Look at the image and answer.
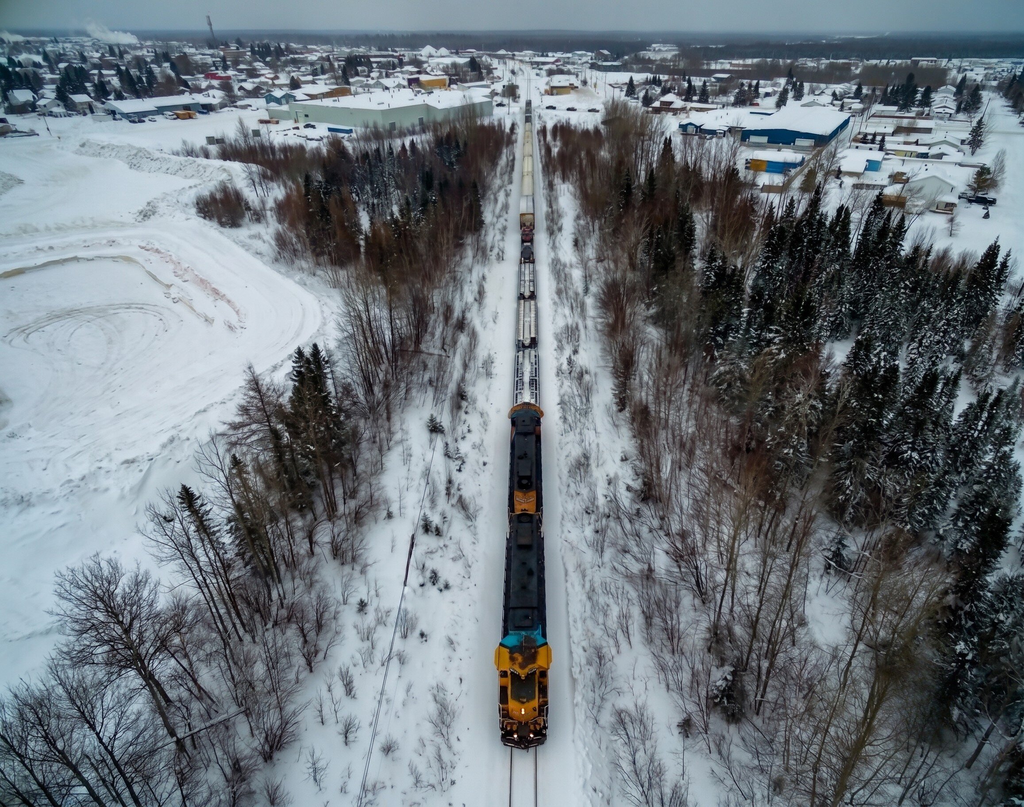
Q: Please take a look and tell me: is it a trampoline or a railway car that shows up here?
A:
railway car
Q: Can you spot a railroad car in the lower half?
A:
Yes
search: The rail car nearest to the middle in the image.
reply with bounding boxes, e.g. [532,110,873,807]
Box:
[512,345,540,413]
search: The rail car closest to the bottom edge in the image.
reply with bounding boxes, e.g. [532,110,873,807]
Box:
[497,519,553,761]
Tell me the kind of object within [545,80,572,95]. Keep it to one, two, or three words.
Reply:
building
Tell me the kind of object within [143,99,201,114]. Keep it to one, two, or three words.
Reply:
building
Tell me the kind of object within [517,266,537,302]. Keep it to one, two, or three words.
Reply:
rail car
